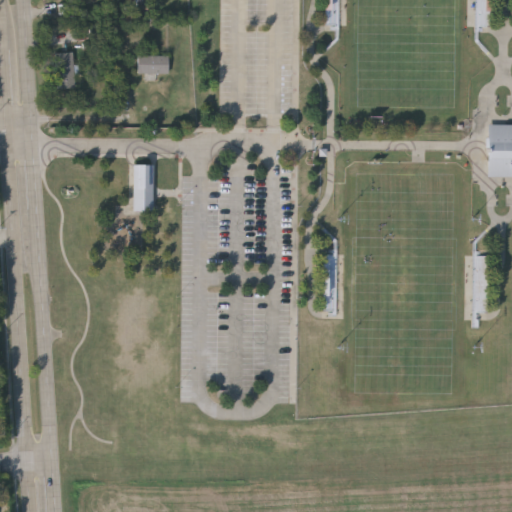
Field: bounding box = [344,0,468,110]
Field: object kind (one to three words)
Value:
sports field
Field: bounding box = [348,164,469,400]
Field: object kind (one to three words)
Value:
sports field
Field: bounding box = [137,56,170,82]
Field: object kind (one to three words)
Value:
house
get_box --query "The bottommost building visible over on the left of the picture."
[133,164,154,212]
